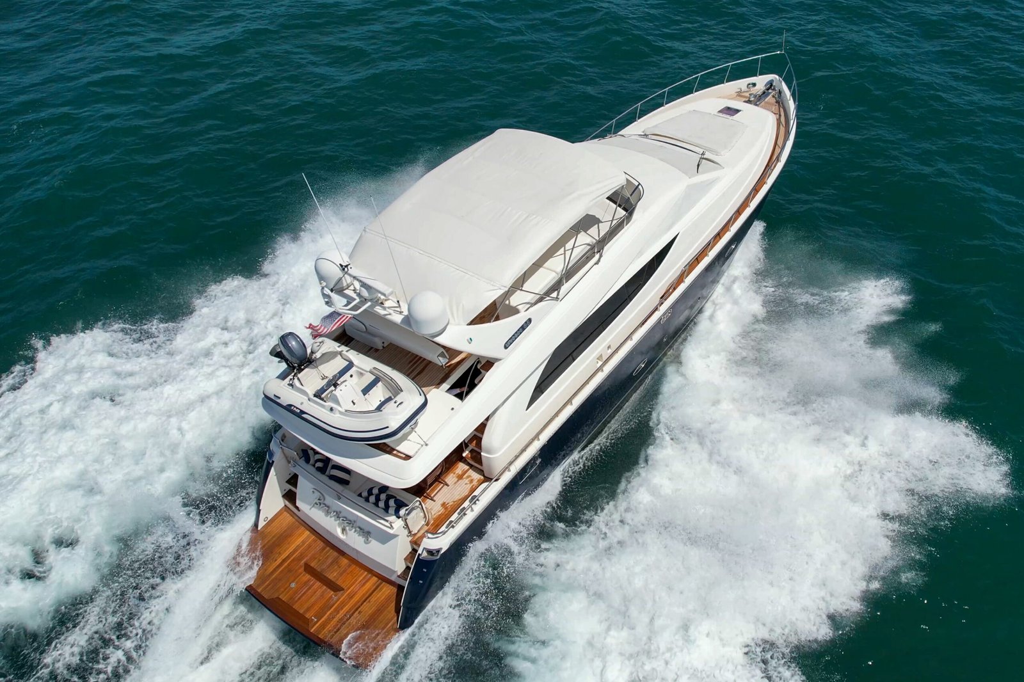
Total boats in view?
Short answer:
2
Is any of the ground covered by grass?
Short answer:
No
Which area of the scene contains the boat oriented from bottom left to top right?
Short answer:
center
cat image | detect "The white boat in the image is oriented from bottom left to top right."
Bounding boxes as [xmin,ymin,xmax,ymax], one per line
[216,26,801,661]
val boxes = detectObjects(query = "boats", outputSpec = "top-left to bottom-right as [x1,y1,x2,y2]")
[216,26,801,661]
[261,325,431,440]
